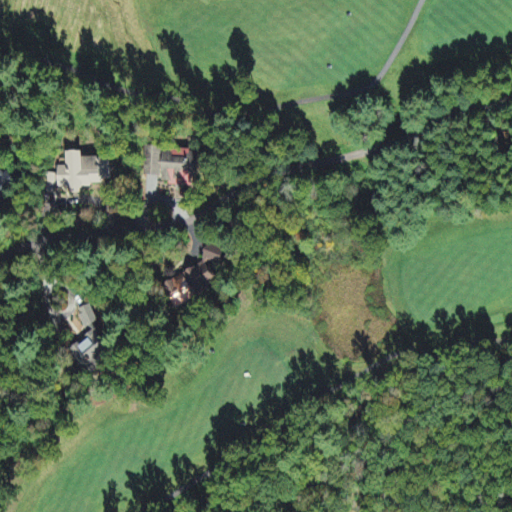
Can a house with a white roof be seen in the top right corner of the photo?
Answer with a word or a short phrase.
No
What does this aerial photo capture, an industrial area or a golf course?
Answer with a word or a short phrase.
golf course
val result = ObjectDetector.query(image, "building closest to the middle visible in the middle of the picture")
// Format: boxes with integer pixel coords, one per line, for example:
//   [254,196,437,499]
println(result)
[202,245,221,276]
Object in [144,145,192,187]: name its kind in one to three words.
house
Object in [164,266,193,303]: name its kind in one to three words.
house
